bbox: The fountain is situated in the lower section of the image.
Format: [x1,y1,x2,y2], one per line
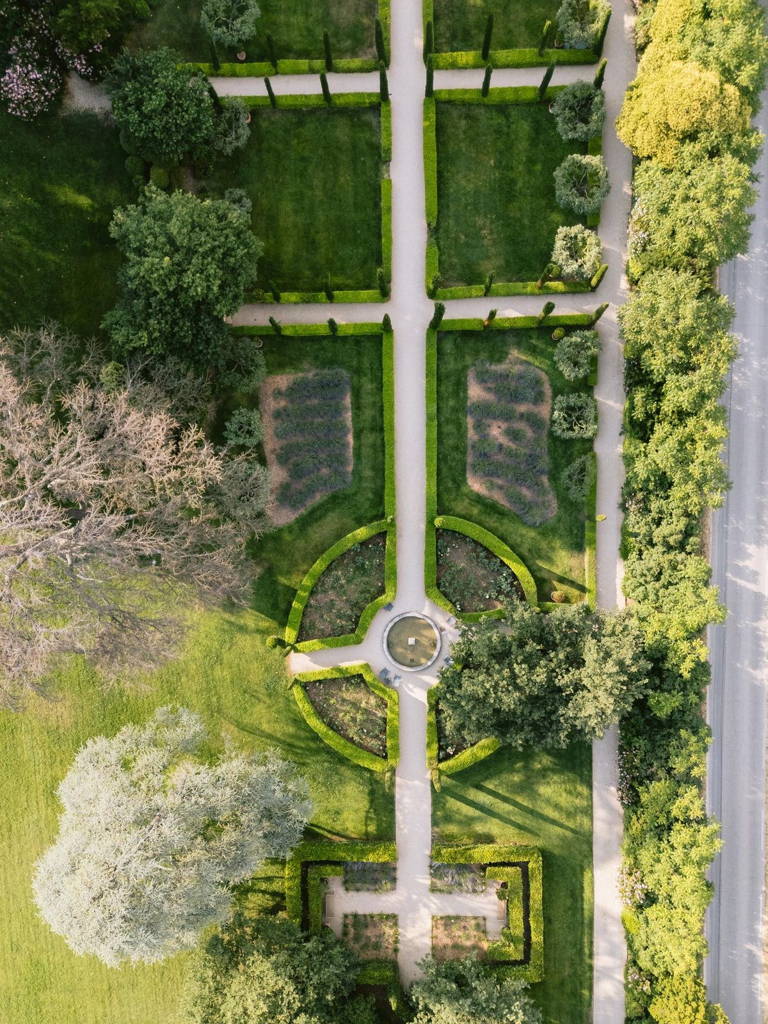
[382,612,442,673]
